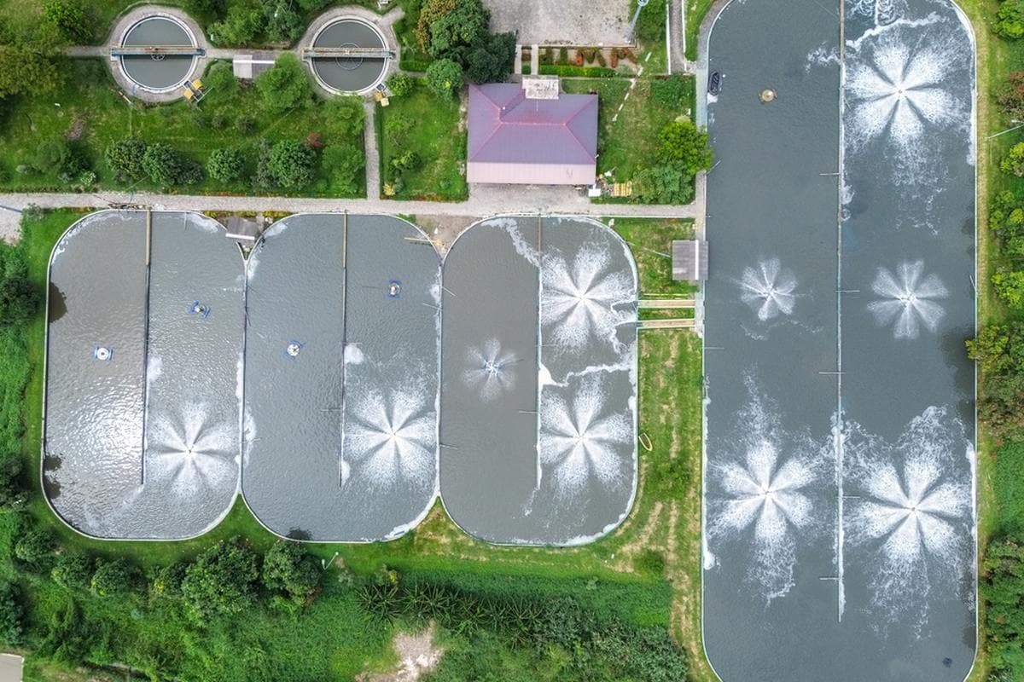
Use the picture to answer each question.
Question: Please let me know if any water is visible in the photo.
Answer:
Yes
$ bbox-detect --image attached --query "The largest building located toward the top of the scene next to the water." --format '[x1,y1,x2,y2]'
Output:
[467,75,600,189]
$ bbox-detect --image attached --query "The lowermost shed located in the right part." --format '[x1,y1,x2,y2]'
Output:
[669,238,708,281]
